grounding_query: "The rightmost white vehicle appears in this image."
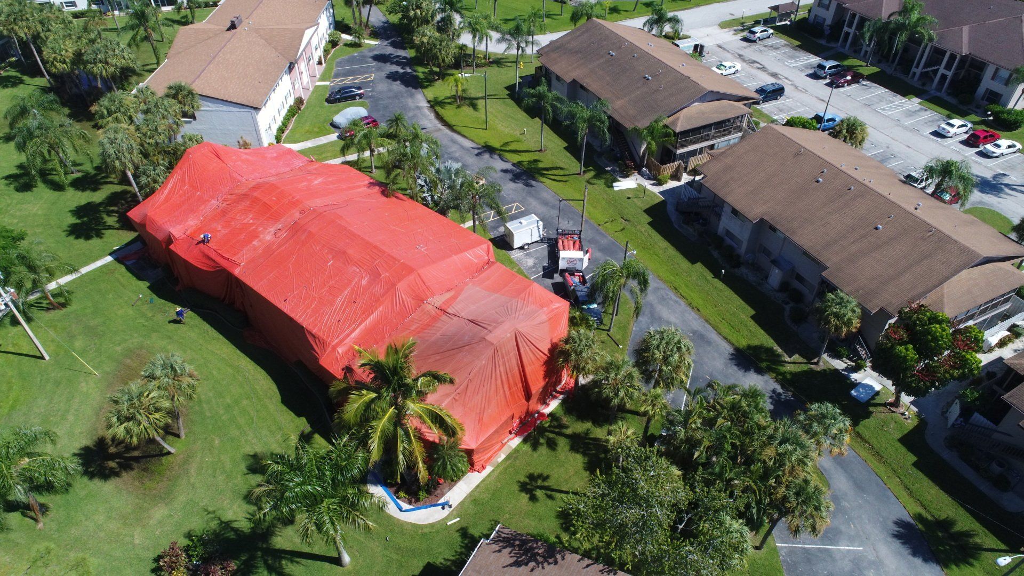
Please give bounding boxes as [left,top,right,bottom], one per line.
[980,140,1022,161]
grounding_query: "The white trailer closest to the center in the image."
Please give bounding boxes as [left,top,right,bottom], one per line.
[505,210,554,246]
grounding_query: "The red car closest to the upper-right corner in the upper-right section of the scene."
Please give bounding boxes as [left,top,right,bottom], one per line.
[964,130,1000,149]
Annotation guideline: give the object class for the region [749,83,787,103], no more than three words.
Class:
car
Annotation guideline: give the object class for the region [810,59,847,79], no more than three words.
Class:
car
